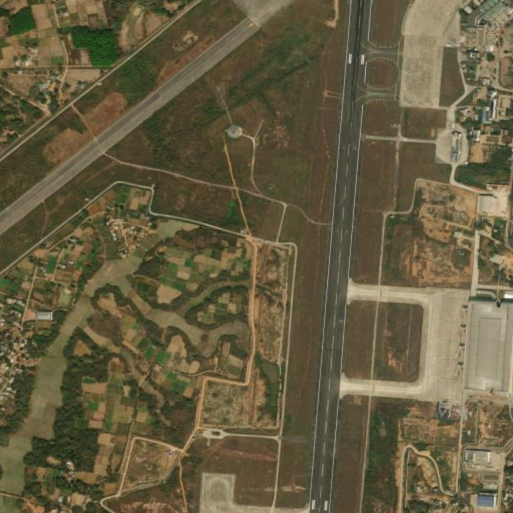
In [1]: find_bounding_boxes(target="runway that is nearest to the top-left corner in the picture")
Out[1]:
[0,18,258,234]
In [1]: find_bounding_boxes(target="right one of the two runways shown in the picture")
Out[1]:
[306,0,375,513]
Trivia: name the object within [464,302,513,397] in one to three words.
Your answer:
building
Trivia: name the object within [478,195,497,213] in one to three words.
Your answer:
building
